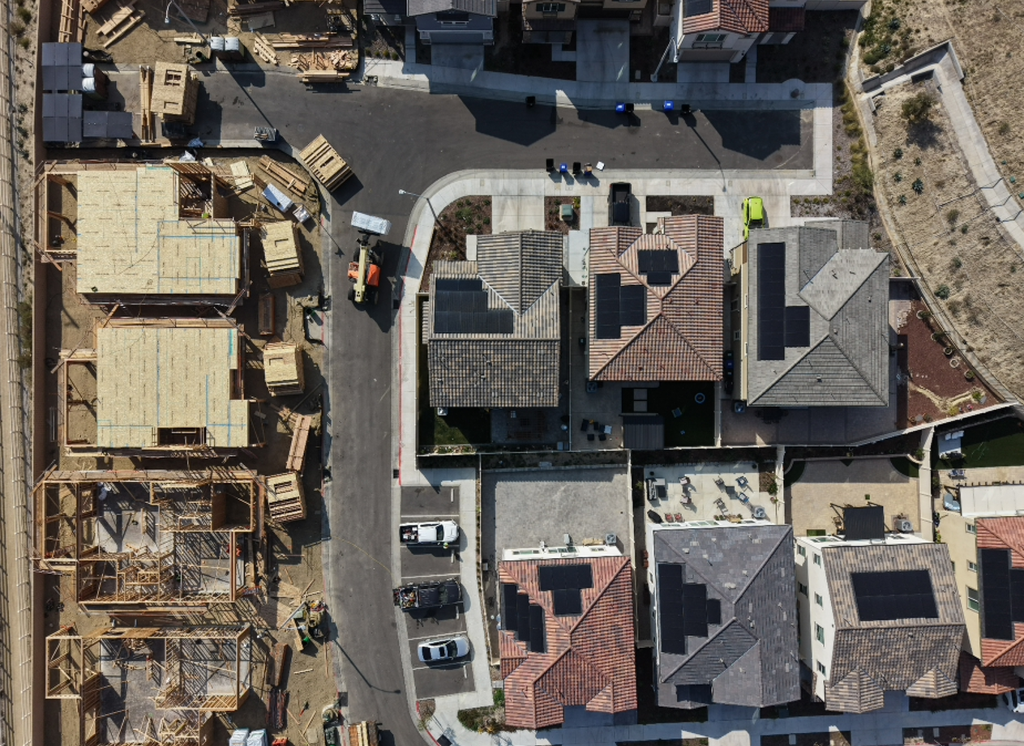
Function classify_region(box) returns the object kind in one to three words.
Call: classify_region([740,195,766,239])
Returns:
car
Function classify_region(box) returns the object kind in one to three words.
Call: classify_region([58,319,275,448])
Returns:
house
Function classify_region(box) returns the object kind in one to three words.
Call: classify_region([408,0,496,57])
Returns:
house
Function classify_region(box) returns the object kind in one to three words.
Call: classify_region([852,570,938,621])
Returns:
solar array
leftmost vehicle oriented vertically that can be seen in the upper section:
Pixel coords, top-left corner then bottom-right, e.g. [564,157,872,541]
[348,228,381,302]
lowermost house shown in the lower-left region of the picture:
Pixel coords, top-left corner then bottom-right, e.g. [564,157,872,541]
[46,626,251,746]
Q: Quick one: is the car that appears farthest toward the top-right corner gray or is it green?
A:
green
